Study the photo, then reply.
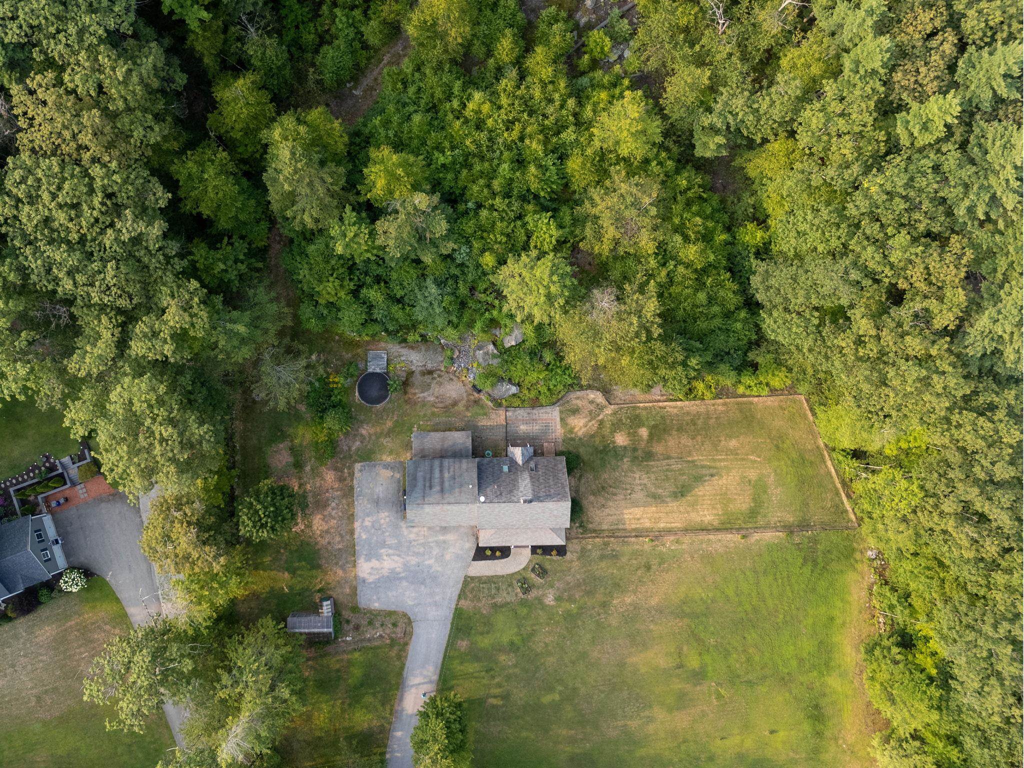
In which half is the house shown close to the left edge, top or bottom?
bottom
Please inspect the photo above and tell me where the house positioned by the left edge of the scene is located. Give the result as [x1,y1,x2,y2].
[0,513,69,608]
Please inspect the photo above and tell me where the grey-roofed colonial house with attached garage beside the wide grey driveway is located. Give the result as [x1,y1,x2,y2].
[404,431,571,550]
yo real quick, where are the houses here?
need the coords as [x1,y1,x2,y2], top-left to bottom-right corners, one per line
[404,431,571,550]
[0,513,69,608]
